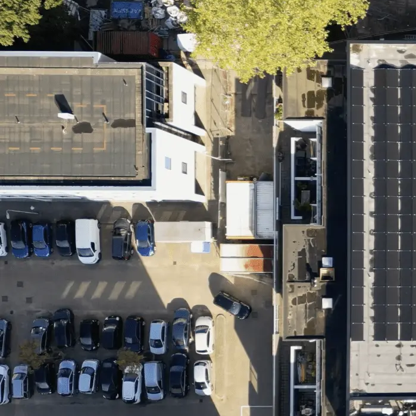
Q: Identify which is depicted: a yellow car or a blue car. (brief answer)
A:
blue car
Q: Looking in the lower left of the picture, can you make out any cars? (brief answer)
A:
Yes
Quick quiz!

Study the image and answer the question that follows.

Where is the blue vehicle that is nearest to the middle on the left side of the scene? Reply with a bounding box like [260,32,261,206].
[135,220,157,255]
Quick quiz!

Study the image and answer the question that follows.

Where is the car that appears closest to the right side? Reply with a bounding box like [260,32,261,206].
[211,290,254,319]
